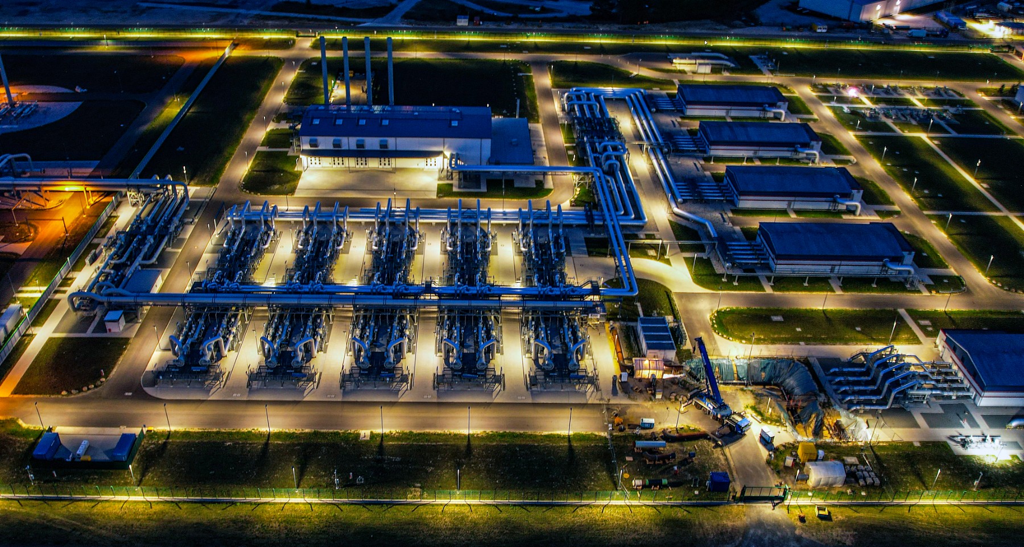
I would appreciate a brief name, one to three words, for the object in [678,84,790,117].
building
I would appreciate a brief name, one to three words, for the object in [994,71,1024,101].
building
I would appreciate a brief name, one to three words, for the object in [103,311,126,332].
shed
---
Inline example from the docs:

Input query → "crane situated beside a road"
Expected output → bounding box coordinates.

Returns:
[685,336,757,431]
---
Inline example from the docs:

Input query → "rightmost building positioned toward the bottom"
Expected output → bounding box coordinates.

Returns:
[941,332,1024,406]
